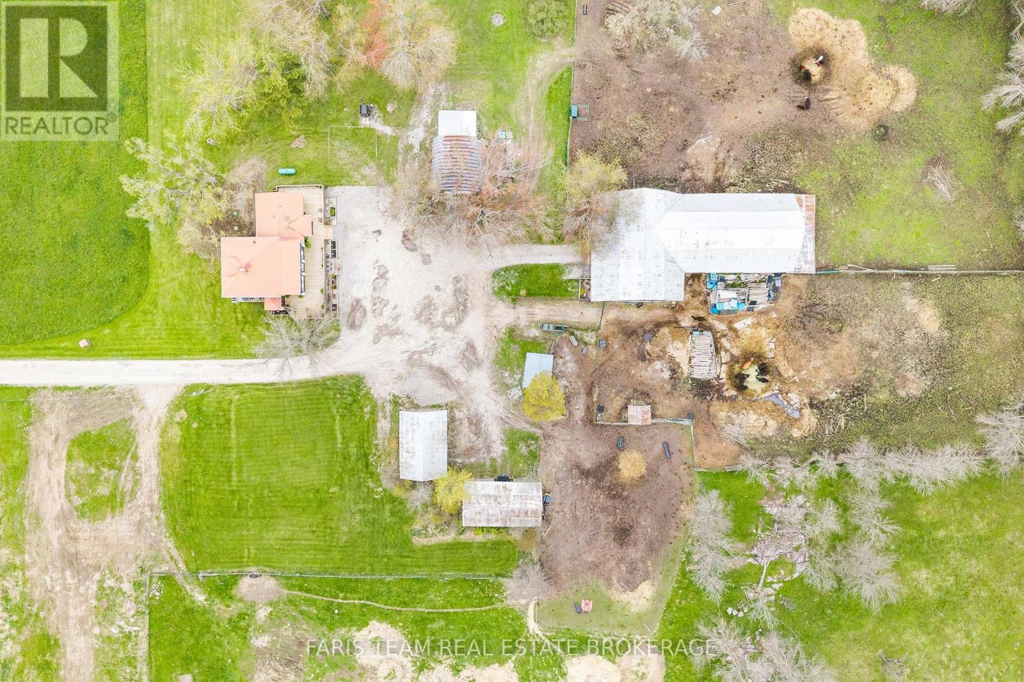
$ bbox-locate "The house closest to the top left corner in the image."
[221,191,315,311]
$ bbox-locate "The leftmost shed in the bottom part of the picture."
[399,411,447,483]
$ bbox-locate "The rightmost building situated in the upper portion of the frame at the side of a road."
[589,188,816,303]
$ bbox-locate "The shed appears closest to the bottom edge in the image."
[462,481,543,527]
